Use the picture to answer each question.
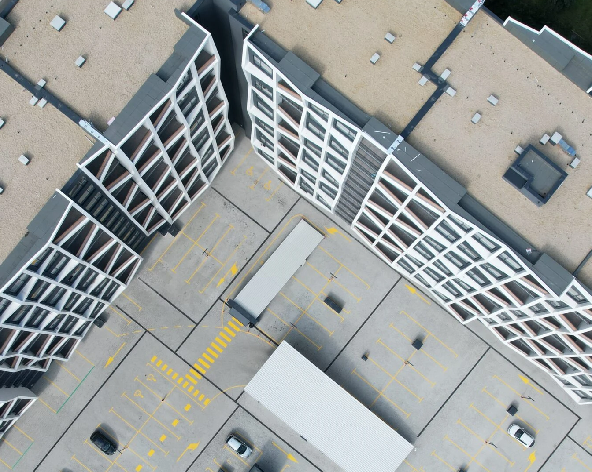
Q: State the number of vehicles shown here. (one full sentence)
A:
The count of vehicles comes to 3.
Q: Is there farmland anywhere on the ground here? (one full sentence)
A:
No, the picture contains no farmland.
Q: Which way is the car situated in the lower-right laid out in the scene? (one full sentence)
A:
In this picture, the car situated in the lower-right is oriented at an angle.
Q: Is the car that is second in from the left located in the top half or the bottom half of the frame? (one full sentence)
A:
The car that is second in from the left is in the bottom half of the image.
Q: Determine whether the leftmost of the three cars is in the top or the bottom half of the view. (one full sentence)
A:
It is in the bottom half that the leftmost of the three cars appears.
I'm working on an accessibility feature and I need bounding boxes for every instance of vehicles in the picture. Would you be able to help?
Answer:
[223,433,253,460]
[85,428,120,460]
[507,422,539,451]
